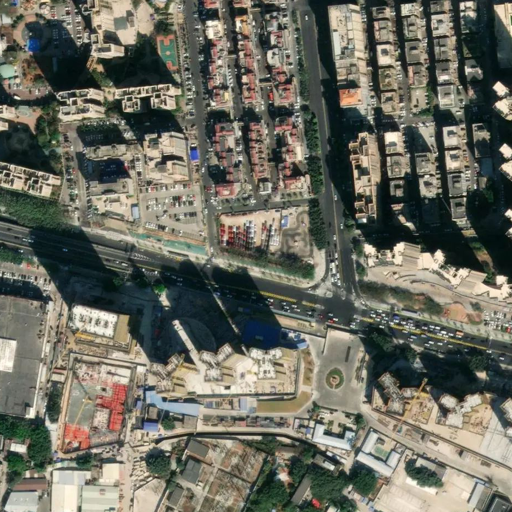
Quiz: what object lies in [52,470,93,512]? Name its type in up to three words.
building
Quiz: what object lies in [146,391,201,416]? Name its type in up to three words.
shed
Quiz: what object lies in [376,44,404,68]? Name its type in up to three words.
building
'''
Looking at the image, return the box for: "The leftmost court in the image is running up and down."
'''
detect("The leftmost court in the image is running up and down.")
[158,35,178,70]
